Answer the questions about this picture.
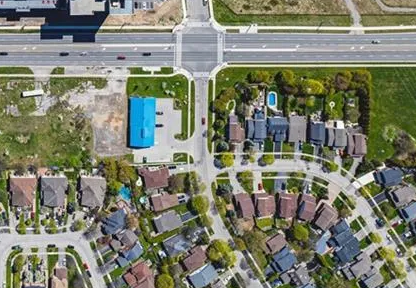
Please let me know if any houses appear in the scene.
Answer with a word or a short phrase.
Yes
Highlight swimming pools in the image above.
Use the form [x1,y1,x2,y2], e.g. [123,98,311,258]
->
[269,92,276,107]
[119,185,132,202]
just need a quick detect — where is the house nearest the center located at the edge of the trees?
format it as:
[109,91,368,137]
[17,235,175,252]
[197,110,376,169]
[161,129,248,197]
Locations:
[225,117,244,143]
